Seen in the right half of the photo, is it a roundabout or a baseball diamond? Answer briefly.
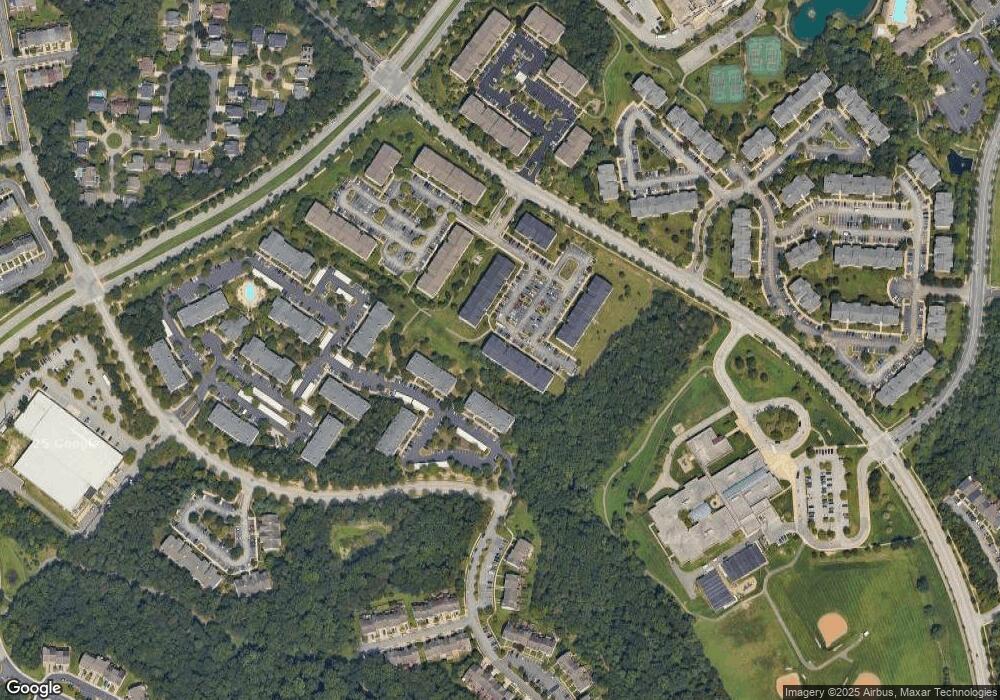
baseball diamond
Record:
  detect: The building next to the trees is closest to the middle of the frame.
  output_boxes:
[481,334,554,391]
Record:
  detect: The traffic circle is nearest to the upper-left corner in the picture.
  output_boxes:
[99,125,130,156]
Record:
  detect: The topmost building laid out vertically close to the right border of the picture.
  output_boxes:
[935,192,952,229]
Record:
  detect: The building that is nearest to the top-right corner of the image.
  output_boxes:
[896,0,956,55]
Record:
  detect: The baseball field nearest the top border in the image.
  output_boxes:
[818,612,848,650]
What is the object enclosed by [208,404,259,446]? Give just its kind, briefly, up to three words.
building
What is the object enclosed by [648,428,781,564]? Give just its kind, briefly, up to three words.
building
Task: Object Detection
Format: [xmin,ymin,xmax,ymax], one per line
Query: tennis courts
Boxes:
[710,66,728,103]
[747,37,765,75]
[728,66,744,103]
[764,37,781,75]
